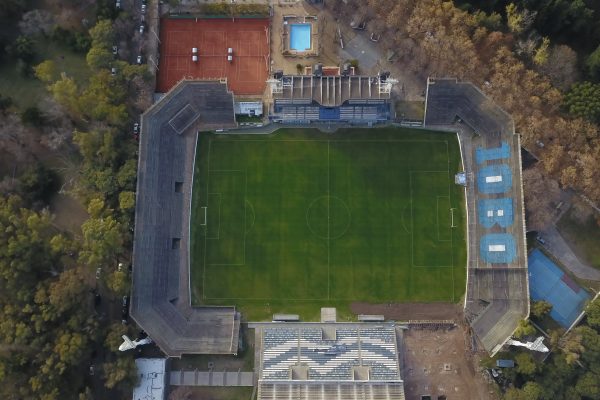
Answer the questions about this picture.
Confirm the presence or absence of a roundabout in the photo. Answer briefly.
No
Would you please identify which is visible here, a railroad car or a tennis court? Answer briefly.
tennis court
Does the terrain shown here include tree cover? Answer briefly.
Yes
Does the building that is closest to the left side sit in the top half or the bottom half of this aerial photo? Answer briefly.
bottom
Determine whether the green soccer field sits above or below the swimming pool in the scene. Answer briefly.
below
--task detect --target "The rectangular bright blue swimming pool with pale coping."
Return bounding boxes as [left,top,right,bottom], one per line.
[288,22,313,54]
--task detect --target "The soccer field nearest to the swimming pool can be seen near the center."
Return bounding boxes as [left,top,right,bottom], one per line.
[191,128,466,322]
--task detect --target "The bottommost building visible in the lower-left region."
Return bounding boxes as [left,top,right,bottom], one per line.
[131,355,171,400]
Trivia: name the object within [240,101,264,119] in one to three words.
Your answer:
building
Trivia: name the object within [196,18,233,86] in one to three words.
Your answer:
tennis court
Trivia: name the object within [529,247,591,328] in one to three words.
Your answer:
sports court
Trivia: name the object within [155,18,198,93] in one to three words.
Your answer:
tennis court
